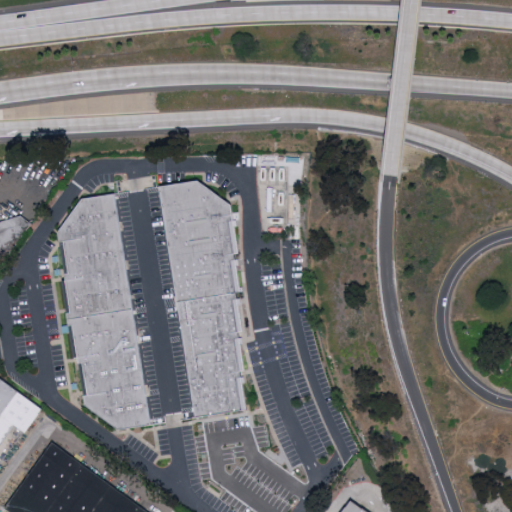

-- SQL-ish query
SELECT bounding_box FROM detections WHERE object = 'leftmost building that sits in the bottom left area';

[0,378,40,443]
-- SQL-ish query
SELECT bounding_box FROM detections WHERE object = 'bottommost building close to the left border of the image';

[2,442,147,512]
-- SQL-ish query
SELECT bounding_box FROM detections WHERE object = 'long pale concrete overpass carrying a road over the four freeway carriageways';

[384,0,420,176]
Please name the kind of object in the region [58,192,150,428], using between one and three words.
building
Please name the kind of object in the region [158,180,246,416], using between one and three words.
building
